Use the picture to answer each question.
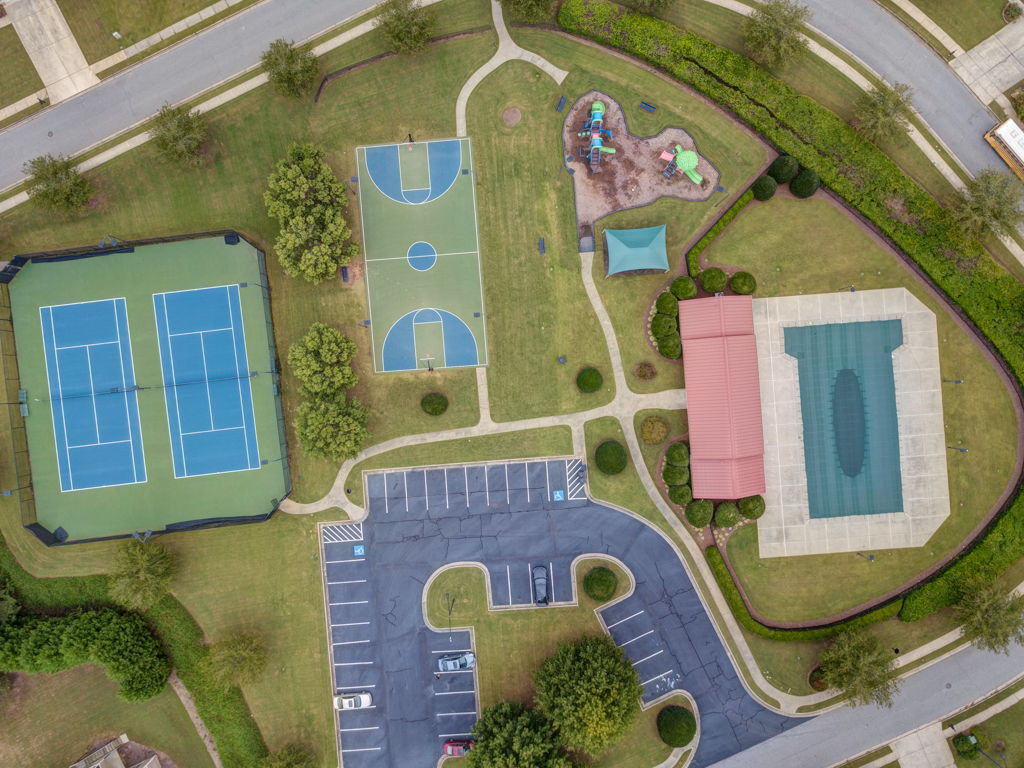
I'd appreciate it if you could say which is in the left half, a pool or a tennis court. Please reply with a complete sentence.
Visible in the left half is a tennis court.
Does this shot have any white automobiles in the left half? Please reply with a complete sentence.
Yes, in the left half there is a white automobile.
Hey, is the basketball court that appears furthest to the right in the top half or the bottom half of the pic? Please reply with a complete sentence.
Seen from above, the basketball court that appears furthest to the right lies in the top half of the view.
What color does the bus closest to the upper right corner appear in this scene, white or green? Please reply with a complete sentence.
The color of the bus closest to the upper right corner is white.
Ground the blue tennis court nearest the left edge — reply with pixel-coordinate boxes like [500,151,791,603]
[39,297,146,492]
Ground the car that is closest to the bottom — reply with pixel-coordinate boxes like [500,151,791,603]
[443,739,474,758]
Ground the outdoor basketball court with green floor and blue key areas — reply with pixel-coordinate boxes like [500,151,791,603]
[355,136,489,375]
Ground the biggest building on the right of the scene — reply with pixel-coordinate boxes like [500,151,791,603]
[679,295,767,499]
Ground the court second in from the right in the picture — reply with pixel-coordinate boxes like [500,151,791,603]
[152,284,260,478]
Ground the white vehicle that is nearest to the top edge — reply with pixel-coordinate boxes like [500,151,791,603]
[986,114,1024,176]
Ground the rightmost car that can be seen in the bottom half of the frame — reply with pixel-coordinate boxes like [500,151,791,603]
[532,567,549,606]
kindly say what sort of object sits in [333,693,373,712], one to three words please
car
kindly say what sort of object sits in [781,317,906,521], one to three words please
swimming pool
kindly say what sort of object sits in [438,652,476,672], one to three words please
car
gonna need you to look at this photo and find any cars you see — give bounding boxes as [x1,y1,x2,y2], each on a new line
[333,693,373,712]
[532,567,549,606]
[443,739,474,758]
[438,652,476,672]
